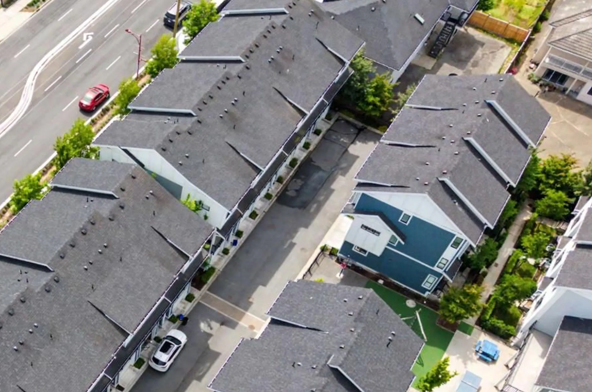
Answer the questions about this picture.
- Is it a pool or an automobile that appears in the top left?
automobile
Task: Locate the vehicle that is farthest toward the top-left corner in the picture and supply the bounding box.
[76,82,110,112]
